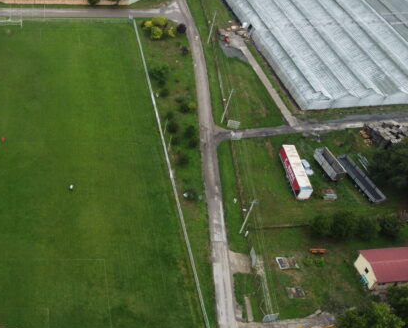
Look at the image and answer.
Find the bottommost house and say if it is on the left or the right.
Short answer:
right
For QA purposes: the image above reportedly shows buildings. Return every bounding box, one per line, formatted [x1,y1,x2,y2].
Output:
[224,0,408,110]
[353,248,408,292]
